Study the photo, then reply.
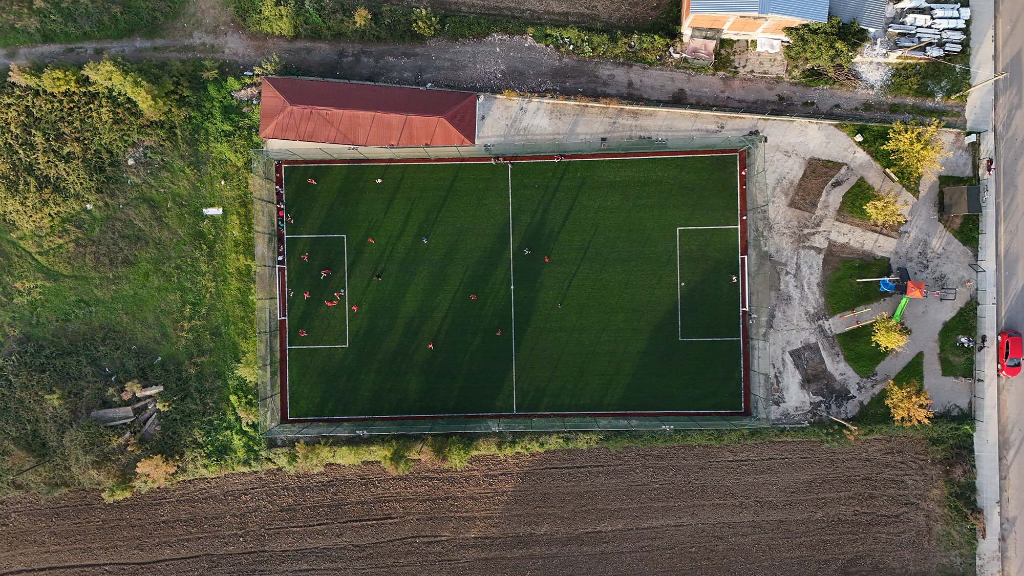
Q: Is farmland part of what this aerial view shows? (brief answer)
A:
Yes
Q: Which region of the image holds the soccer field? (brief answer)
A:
center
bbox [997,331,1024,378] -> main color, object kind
red car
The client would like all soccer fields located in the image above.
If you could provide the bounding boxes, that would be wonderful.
[275,149,751,423]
